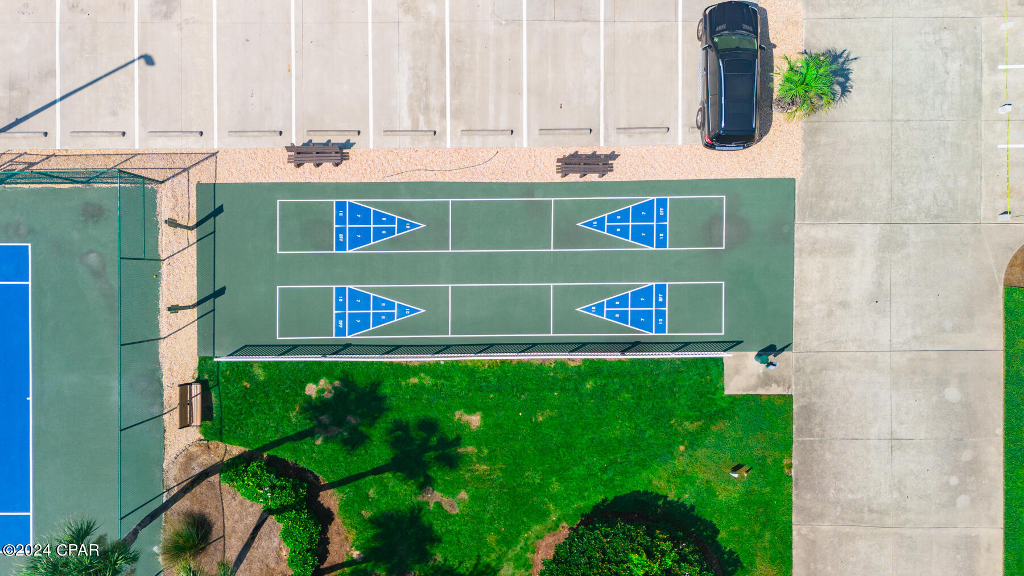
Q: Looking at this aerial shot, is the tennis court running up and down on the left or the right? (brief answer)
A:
left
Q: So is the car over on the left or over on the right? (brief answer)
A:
right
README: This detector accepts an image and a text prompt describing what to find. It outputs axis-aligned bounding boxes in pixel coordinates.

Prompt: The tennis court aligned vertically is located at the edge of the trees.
[0,185,163,576]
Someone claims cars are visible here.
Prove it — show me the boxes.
[696,0,768,151]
